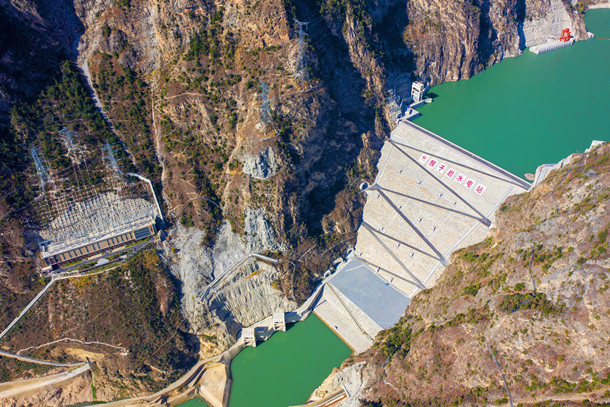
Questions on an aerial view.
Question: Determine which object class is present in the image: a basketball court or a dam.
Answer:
dam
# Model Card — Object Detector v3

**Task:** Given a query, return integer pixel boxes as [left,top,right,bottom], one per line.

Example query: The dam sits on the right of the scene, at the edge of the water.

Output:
[315,120,531,353]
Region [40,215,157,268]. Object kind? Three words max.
building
